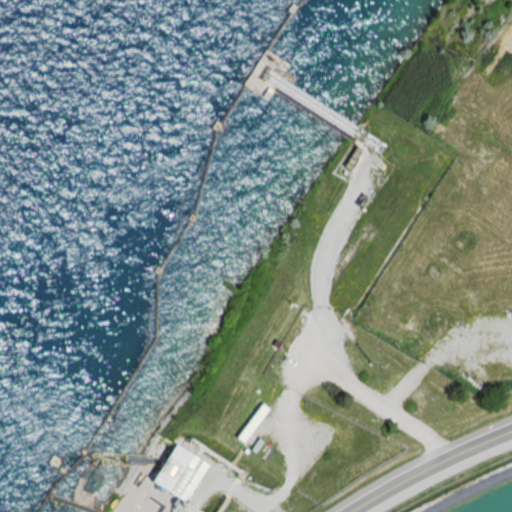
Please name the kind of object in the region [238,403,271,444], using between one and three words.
building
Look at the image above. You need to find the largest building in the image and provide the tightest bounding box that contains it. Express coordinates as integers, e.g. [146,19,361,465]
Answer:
[153,443,210,500]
